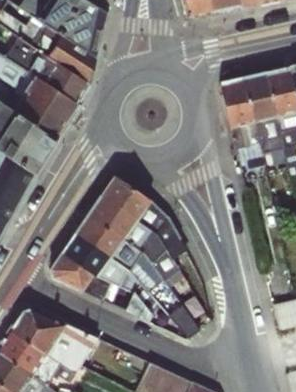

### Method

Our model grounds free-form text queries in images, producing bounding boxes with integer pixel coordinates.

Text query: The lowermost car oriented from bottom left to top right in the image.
[25,238,42,260]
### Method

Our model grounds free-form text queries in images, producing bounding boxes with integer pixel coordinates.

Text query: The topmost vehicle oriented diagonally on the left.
[26,188,44,209]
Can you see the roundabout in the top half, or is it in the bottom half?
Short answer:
top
